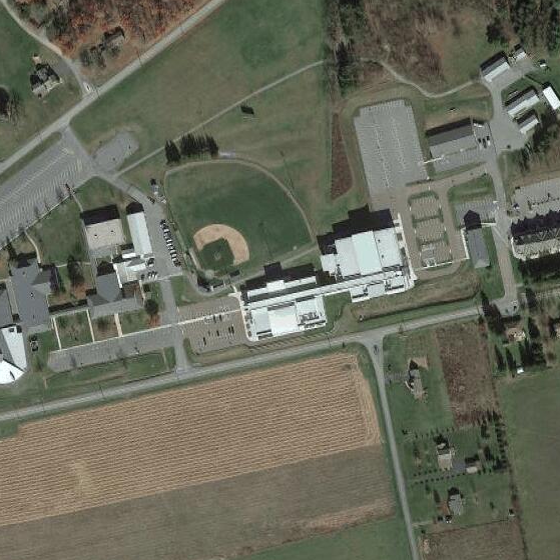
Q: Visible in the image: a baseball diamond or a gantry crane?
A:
baseball diamond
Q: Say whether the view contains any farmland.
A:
Yes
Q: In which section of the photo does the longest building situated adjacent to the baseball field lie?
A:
center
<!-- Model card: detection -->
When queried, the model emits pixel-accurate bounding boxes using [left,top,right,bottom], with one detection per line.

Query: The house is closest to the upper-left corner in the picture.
[32,69,60,96]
